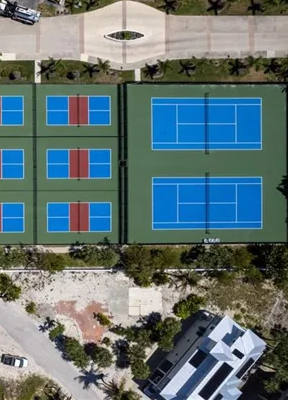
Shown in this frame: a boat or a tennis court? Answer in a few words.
tennis court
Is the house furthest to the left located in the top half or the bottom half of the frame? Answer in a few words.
bottom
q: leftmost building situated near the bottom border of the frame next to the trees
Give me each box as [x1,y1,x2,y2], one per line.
[142,307,268,400]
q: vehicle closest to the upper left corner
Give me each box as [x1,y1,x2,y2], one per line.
[0,0,42,26]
